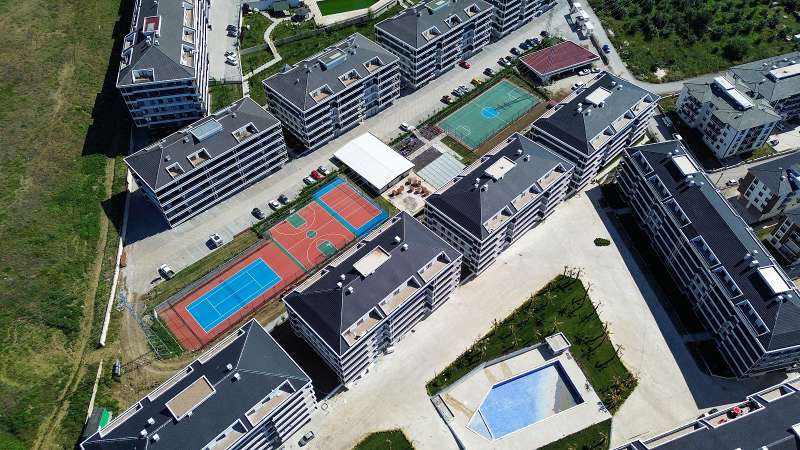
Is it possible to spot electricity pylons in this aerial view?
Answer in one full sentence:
Yes, there's an electricity pylon down there.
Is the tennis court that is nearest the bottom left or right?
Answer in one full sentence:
You can find the tennis court that is nearest the bottom on the left side of the picture.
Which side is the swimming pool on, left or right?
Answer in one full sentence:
The swimming pool is on the right side of the image.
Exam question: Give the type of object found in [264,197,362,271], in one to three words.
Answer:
basketball court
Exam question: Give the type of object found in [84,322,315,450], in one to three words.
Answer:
building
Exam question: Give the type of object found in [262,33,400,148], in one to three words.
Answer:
building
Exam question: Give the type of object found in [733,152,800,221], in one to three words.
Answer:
house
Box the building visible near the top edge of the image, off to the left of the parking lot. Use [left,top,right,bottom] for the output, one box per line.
[116,0,212,123]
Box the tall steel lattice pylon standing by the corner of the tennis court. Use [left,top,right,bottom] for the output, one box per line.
[120,290,171,362]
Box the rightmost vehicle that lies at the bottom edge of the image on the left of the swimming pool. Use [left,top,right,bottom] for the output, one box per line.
[298,427,314,449]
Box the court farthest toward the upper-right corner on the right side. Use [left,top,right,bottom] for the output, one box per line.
[436,79,544,150]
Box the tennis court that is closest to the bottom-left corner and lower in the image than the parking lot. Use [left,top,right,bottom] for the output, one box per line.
[158,238,305,354]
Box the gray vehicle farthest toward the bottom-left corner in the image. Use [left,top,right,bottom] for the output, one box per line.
[110,359,127,380]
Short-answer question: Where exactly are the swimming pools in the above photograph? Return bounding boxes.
[431,341,612,450]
